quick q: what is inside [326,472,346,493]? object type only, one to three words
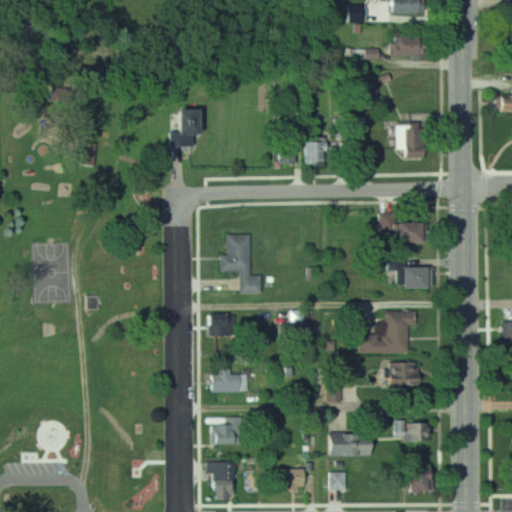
building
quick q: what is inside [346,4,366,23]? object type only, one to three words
building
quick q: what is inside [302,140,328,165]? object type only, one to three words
house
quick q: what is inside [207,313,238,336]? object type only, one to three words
house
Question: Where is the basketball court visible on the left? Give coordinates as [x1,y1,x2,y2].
[32,243,70,302]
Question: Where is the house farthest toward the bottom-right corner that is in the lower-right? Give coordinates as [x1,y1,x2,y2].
[408,466,436,492]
